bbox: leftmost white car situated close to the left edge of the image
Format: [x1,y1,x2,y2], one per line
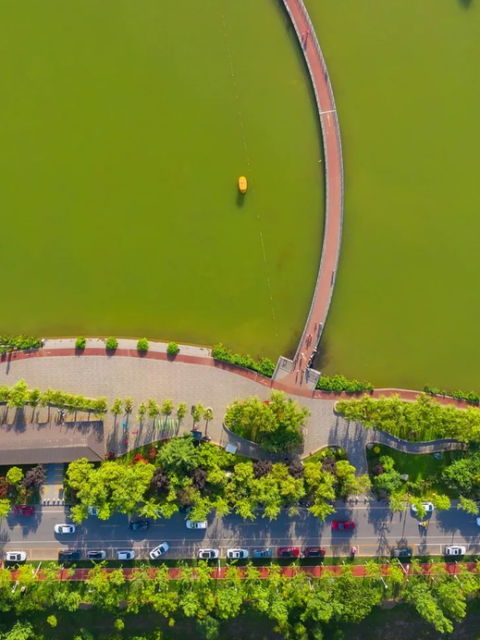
[5,550,27,562]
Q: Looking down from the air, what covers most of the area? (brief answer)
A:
water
